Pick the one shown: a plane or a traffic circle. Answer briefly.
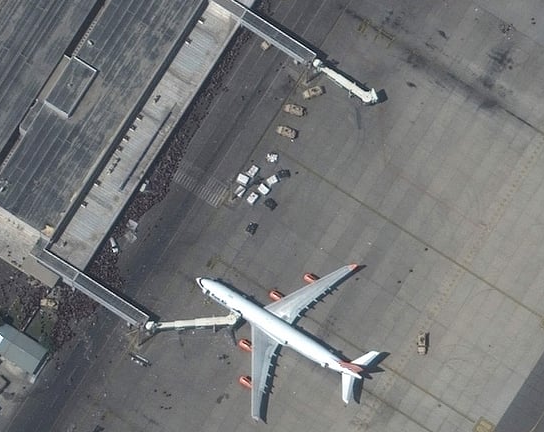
plane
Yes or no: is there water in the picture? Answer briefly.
No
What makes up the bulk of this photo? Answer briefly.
paved ground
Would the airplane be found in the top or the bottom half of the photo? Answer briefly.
bottom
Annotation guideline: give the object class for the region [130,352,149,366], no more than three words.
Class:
work vehicle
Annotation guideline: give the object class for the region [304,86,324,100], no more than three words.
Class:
vehicle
